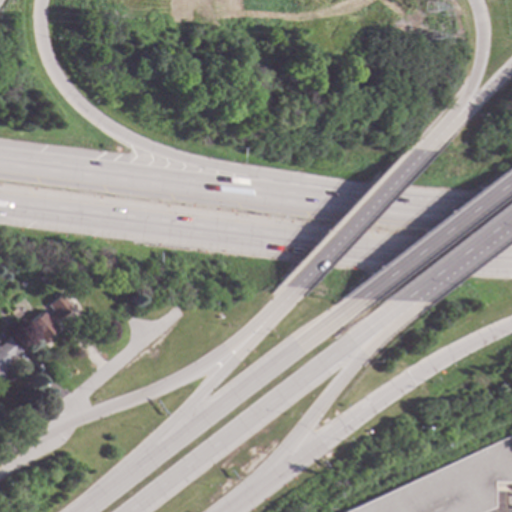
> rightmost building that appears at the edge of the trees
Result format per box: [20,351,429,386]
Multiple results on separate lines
[342,434,512,512]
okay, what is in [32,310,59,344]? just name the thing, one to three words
house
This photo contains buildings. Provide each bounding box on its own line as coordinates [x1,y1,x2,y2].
[342,434,512,512]
[32,310,59,344]
[14,298,32,318]
[0,336,25,368]
[53,289,82,315]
